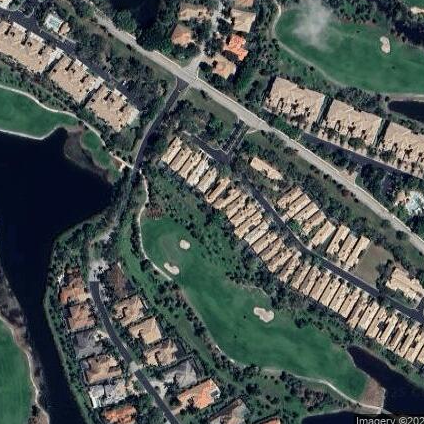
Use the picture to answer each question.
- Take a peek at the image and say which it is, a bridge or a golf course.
golf course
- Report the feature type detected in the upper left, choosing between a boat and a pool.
pool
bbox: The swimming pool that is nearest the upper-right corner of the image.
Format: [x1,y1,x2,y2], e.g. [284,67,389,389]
[403,191,424,213]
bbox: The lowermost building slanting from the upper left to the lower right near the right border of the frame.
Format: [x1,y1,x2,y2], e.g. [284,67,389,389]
[387,268,424,300]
